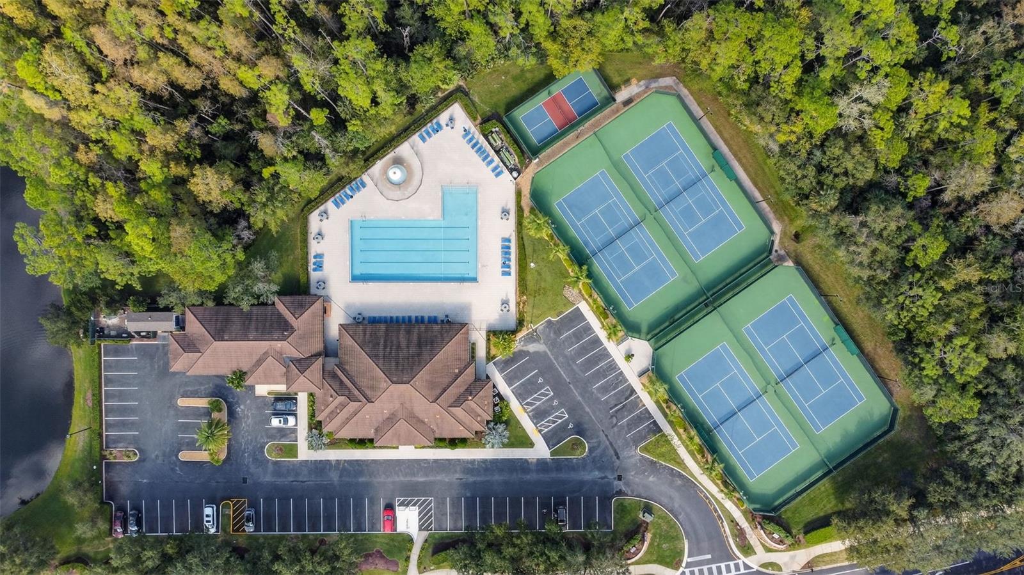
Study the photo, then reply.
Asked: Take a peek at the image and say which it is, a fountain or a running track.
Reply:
fountain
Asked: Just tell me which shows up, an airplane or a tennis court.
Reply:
tennis court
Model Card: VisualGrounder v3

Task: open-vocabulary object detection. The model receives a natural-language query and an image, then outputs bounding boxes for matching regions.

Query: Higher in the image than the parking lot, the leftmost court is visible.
[508,70,614,154]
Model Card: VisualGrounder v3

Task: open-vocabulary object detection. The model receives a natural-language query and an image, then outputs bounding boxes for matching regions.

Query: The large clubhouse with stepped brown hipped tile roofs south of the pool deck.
[316,323,492,446]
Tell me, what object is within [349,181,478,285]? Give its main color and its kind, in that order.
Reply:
blue swimming pool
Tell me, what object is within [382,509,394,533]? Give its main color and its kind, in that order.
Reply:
red vehicle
